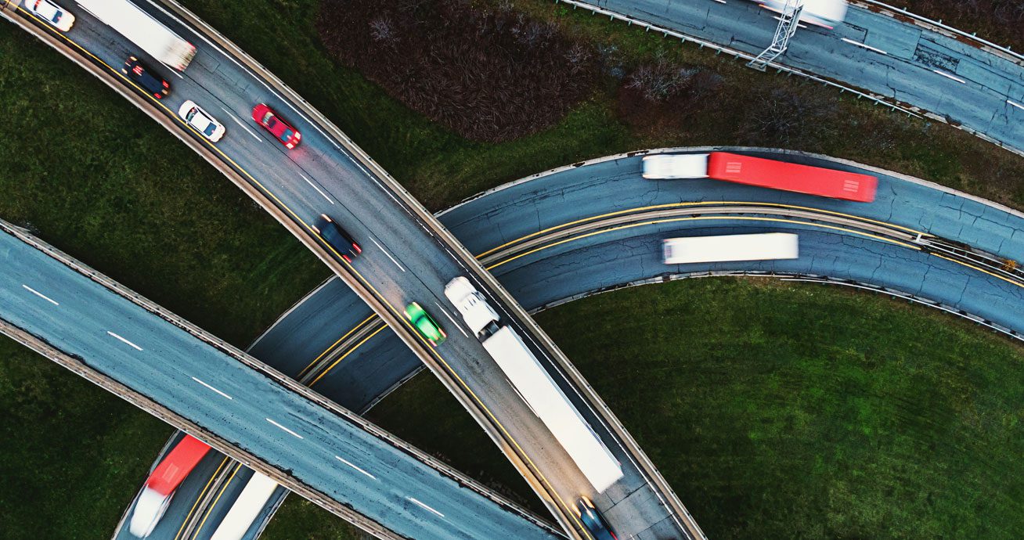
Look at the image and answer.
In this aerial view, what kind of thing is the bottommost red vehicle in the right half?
truck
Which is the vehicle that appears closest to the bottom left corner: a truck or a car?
truck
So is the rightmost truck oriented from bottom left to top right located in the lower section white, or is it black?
white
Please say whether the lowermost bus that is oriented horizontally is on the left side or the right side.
right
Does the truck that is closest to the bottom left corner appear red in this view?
Yes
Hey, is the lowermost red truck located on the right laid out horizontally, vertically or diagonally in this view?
horizontally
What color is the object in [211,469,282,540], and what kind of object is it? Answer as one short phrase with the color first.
white truck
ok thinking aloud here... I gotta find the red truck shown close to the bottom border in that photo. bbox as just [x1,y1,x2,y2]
[138,431,215,534]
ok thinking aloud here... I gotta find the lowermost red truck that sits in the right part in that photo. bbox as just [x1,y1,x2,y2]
[638,151,875,205]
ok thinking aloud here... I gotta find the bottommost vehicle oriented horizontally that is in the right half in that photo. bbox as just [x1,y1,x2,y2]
[660,231,796,264]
